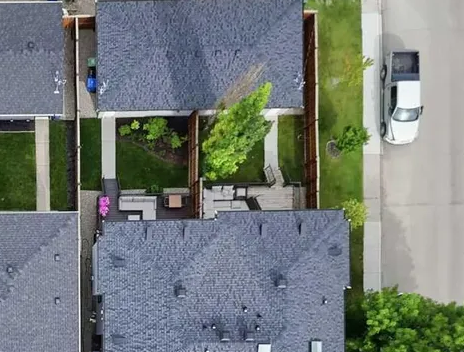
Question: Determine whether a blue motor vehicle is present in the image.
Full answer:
No, the photo shows no blue motor vehicle.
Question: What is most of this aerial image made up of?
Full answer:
What you mostly see from above here is buildings.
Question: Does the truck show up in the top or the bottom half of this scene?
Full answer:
It is in the top half that the truck appears.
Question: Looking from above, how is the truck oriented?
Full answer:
The truck has been laid out vertically relative to the frame.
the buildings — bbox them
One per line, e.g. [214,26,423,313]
[91,209,351,352]
[0,210,83,352]
[0,1,65,123]
[95,0,308,118]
